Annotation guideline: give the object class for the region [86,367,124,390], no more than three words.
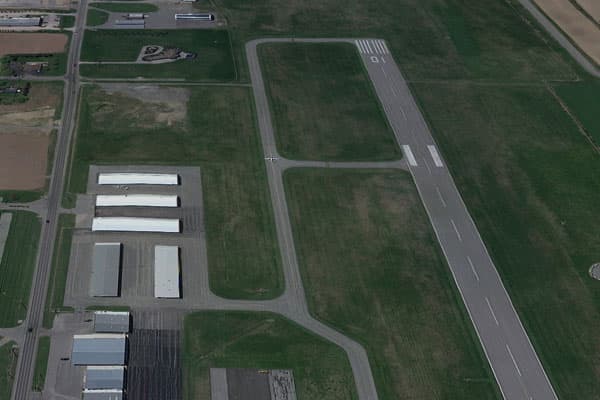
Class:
hangar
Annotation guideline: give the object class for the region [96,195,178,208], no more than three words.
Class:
hangar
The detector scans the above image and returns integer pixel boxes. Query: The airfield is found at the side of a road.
[64,38,558,400]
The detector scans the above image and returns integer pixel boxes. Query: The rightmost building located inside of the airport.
[155,246,180,299]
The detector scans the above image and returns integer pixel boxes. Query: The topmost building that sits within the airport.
[98,173,178,186]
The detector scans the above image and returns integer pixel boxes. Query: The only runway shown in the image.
[355,40,558,400]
